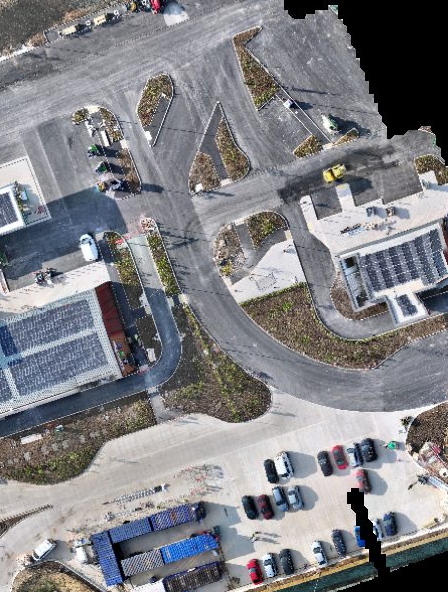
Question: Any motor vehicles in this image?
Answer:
Yes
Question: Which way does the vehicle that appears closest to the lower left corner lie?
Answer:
diagonally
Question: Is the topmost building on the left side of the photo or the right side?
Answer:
right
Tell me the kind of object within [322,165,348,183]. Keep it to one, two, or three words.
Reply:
work vehicle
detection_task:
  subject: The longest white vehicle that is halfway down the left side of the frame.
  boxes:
[80,233,98,263]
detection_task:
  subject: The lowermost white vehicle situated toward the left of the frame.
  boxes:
[30,539,58,562]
